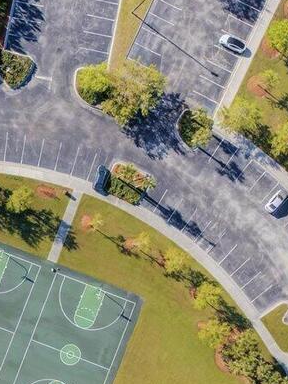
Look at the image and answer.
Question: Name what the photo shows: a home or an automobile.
automobile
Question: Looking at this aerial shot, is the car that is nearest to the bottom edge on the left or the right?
right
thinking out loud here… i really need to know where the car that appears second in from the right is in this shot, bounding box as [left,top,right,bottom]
[218,34,246,53]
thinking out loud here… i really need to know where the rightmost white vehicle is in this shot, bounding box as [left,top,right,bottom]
[263,189,288,214]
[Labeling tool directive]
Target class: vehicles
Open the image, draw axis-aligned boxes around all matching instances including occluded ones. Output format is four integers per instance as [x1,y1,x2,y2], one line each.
[263,189,288,214]
[218,34,246,53]
[94,165,111,193]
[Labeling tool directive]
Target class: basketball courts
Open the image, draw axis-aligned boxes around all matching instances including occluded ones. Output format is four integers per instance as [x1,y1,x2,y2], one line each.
[4,263,143,384]
[0,243,50,384]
